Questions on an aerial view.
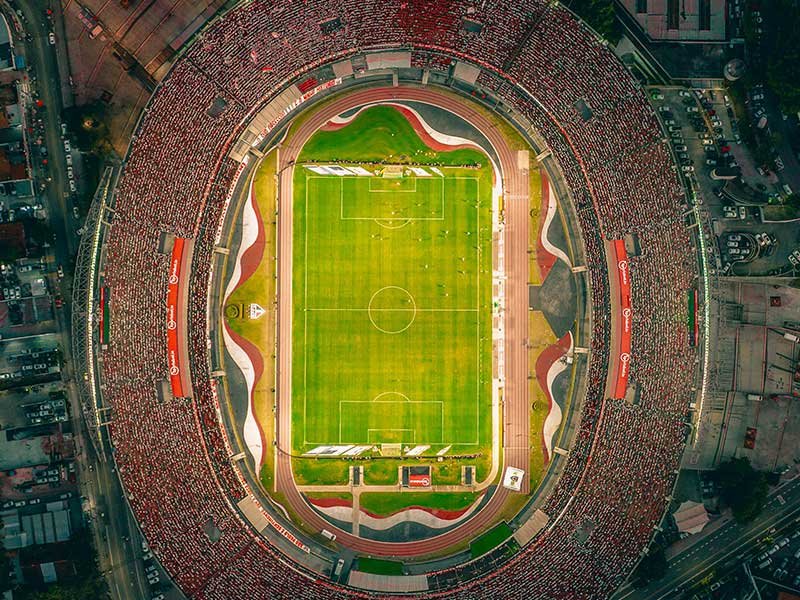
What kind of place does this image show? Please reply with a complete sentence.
This looks like a sports ground.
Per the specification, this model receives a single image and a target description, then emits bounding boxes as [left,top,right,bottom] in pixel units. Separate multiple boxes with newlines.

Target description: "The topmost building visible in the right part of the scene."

[627,0,727,41]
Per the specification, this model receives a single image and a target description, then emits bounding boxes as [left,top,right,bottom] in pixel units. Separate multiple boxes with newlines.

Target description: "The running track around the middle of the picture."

[277,88,529,556]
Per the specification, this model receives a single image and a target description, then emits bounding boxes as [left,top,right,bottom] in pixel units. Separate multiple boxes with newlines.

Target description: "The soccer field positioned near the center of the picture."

[292,166,492,462]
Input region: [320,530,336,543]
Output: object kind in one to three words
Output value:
vehicle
